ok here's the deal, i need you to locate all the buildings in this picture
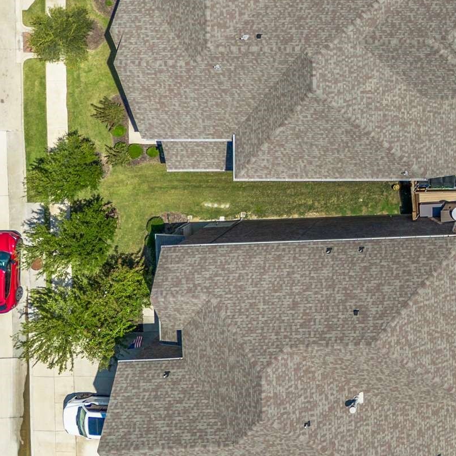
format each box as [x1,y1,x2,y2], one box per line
[109,0,456,182]
[98,217,456,456]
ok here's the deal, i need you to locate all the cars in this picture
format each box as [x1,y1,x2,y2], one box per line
[0,230,25,313]
[64,393,110,440]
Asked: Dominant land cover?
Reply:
buildings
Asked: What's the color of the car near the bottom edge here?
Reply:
white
